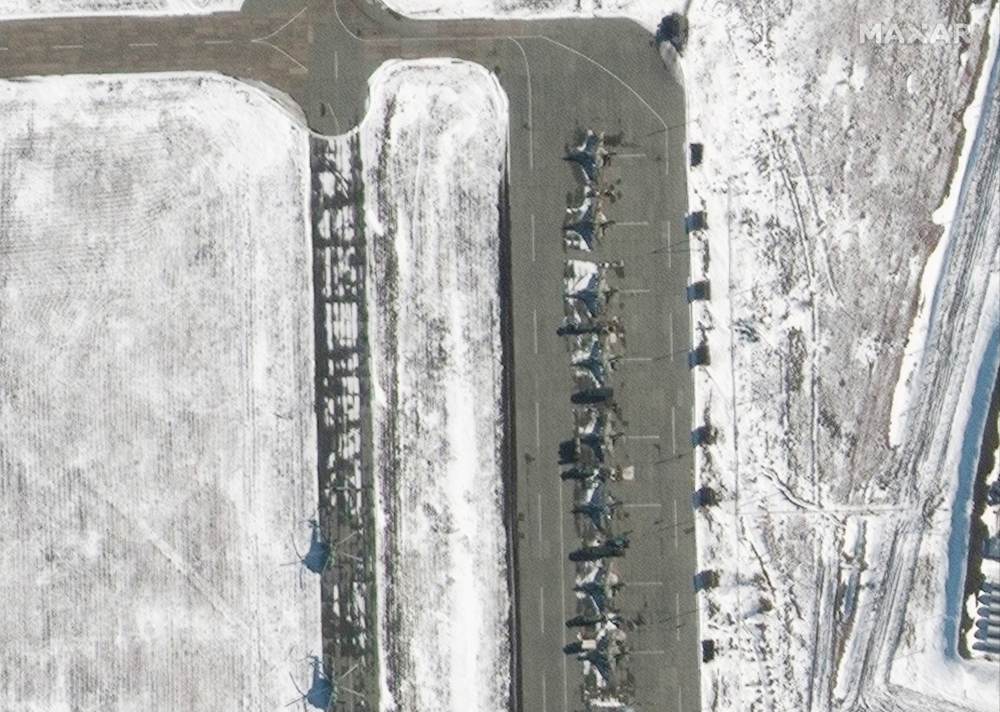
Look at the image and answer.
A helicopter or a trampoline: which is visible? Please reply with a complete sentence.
The one in the frame is a helicopter.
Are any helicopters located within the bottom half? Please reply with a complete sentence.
Yes, a helicopter appears within the bottom half.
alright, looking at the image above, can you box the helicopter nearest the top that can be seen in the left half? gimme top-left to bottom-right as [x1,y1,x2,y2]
[301,514,356,581]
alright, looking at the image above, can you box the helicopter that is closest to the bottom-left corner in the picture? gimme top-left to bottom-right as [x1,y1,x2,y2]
[302,649,357,712]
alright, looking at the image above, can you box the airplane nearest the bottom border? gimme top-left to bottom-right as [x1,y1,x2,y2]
[585,630,631,680]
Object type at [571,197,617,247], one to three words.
airplane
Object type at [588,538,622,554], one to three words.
vehicle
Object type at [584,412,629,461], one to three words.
airplane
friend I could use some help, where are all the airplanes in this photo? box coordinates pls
[585,630,631,680]
[584,412,629,461]
[579,334,624,384]
[580,482,626,531]
[581,561,627,610]
[571,197,617,247]
[571,267,617,315]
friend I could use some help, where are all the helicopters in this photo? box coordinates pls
[302,649,357,712]
[301,514,356,581]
